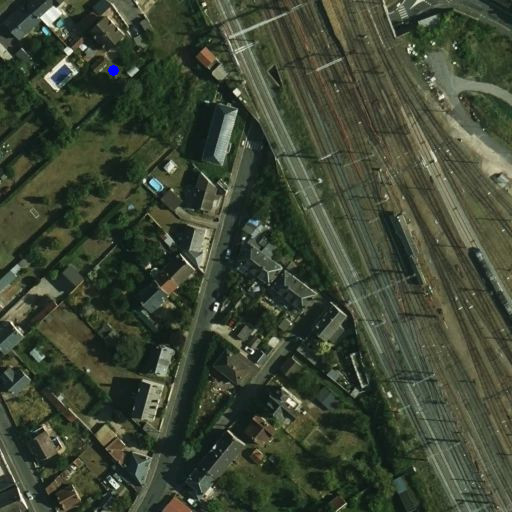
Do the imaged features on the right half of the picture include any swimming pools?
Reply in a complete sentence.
No, there's no swimming pool to be seen on the right half of the picture.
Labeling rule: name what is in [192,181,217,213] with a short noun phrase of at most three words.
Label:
house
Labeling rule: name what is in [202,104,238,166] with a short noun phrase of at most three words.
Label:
building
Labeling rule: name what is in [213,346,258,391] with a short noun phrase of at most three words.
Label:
house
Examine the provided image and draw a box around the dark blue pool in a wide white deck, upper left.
[45,59,78,92]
